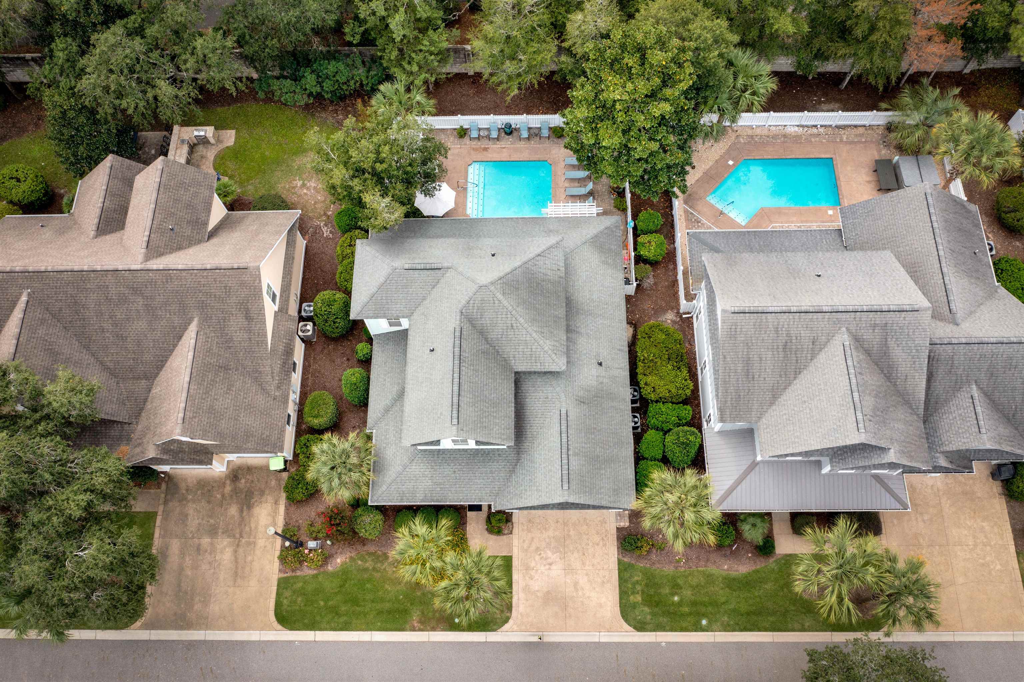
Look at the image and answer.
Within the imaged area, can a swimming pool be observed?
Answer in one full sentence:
Yes, there is a swimming pool in the image.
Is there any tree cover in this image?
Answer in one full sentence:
Yes, there is tree cover in the image.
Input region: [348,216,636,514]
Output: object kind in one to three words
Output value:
house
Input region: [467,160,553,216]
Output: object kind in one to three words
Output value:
swimming pool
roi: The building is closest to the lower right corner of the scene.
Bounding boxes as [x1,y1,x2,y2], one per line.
[685,186,1024,514]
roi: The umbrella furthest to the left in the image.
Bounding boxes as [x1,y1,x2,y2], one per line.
[415,184,456,216]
